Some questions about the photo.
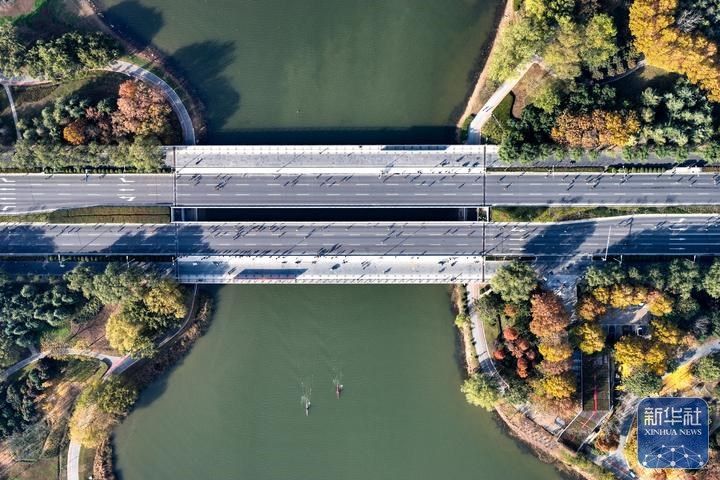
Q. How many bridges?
2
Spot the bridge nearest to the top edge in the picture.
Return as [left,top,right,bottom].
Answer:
[172,145,488,208]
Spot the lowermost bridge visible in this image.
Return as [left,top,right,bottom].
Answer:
[172,221,488,284]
